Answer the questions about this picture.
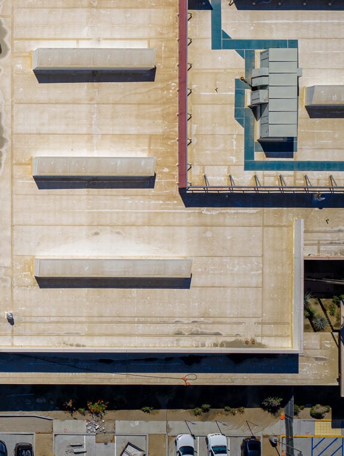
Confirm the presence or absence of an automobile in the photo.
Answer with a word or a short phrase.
Yes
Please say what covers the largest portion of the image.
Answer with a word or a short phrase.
buildings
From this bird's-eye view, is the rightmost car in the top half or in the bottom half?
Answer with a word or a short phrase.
bottom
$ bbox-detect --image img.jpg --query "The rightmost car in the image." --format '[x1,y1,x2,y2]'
[241,434,271,456]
